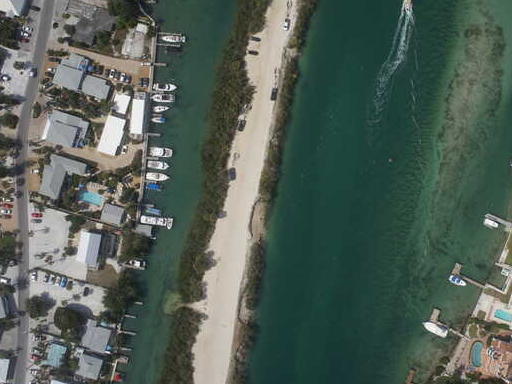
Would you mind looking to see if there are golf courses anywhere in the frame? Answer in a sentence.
No, I find no golf course anywhere in the image.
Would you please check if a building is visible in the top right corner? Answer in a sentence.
No, there's no building to be seen in the top right corner.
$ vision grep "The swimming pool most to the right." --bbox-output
[494,308,512,322]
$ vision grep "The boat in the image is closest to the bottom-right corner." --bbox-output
[424,321,450,339]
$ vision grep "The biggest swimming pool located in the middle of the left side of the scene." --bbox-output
[78,189,104,207]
